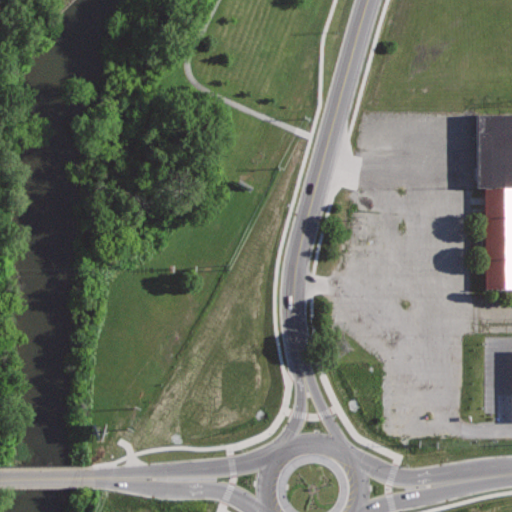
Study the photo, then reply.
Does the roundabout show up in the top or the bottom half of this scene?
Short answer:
bottom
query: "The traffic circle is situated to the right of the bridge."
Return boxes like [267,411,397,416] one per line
[218,392,406,512]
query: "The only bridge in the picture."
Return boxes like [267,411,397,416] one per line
[7,468,86,489]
